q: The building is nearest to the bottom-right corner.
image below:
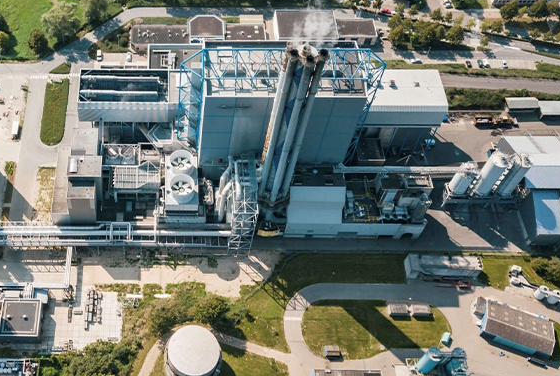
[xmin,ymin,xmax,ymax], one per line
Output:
[475,299,559,365]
